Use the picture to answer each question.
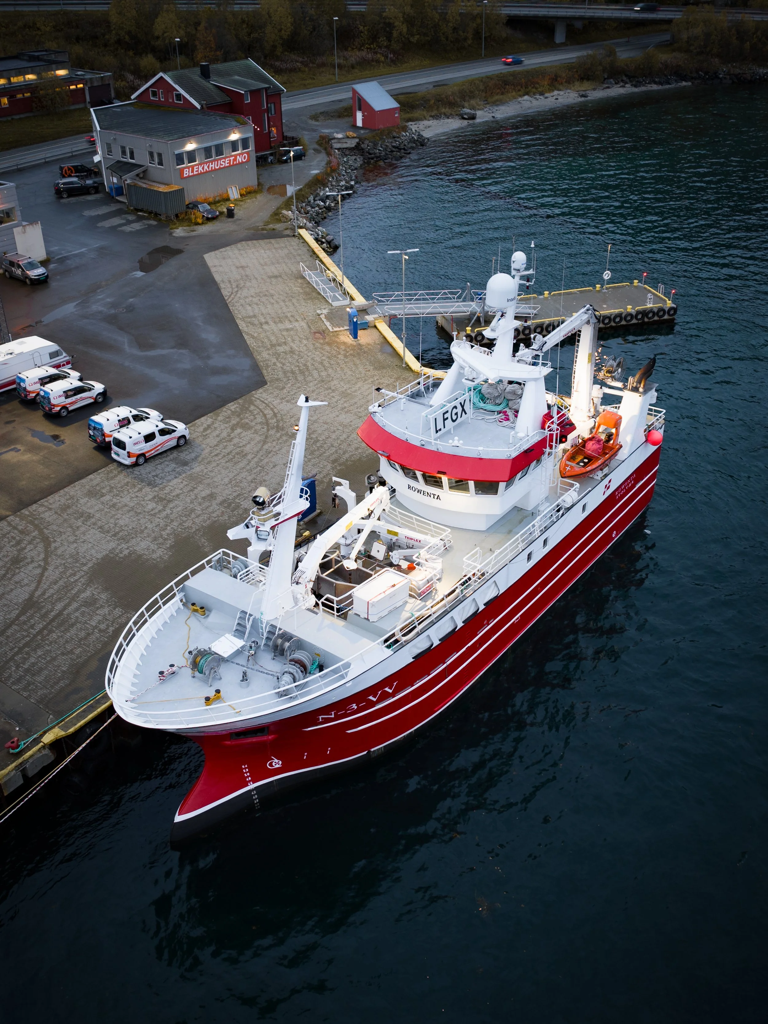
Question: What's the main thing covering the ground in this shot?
water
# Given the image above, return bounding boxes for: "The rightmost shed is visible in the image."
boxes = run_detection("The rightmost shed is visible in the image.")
[354,80,400,130]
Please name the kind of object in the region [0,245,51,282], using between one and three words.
van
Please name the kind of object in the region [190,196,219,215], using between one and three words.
car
